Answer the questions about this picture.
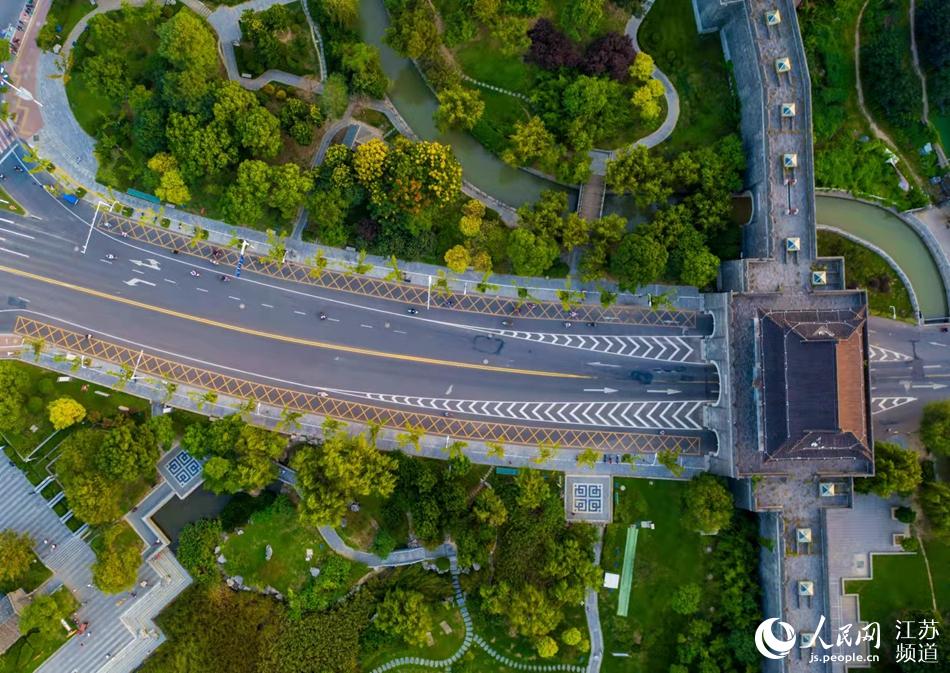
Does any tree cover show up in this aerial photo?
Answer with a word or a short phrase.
Yes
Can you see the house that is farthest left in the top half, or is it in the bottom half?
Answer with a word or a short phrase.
bottom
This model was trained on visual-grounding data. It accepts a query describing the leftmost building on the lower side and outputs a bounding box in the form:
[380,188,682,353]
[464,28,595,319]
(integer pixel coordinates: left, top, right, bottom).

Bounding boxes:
[0,580,44,655]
